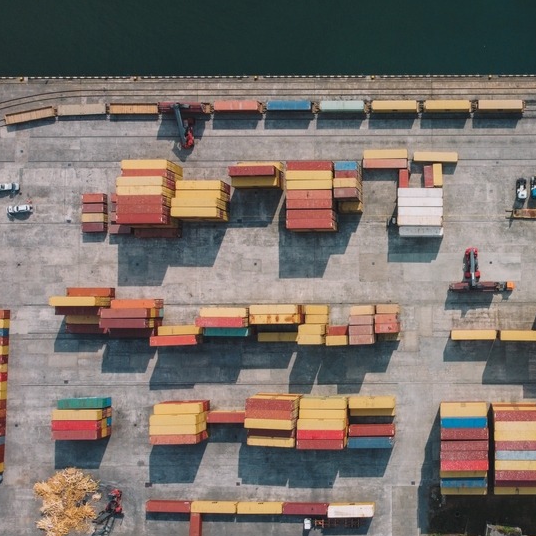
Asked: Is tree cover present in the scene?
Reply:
No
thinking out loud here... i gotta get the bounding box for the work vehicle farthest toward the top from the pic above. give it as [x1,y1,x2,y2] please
[161,101,196,148]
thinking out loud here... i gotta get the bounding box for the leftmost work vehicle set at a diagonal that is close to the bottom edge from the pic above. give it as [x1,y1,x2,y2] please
[89,488,128,531]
